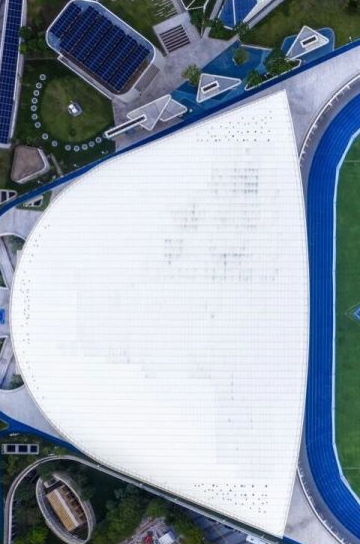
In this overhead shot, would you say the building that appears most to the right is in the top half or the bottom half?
top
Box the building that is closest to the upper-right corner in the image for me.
[287,26,330,58]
